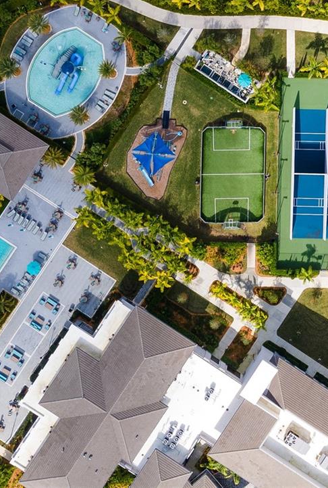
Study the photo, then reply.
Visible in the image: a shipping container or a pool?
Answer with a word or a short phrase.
pool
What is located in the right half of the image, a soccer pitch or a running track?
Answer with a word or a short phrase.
soccer pitch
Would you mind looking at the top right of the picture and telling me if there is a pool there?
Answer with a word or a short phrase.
No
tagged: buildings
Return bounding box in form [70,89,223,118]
[11,300,250,488]
[0,114,49,201]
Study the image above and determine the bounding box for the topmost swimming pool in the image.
[26,27,104,116]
